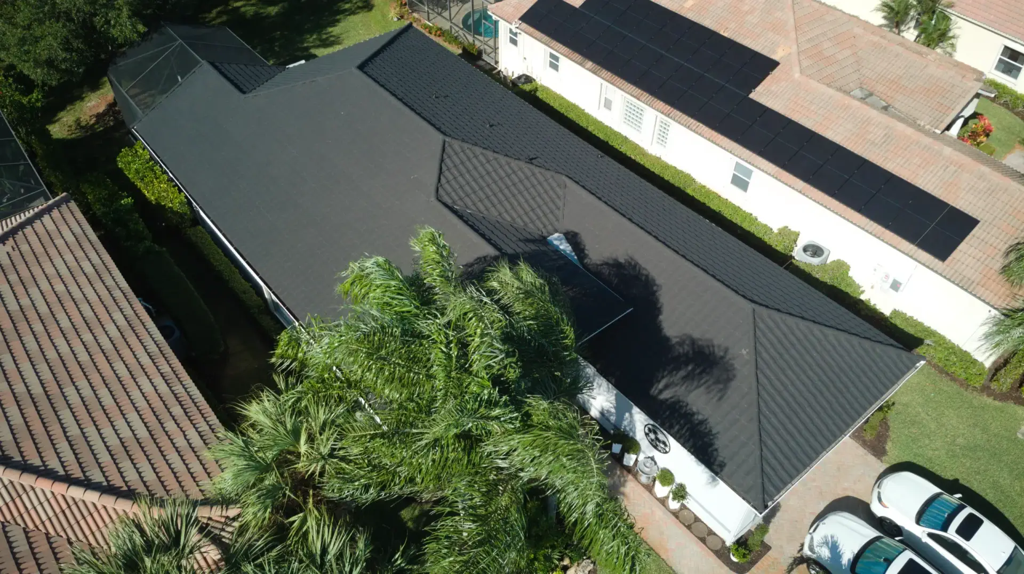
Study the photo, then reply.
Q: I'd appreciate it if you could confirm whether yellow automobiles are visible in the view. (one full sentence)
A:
No, no yellow automobile can be seen from above.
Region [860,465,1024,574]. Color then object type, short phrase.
white car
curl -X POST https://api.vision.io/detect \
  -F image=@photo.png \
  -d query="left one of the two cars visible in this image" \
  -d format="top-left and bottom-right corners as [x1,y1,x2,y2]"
[796,505,941,574]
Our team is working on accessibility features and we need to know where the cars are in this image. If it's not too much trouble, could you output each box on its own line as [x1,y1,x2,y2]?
[860,465,1024,574]
[796,505,941,574]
